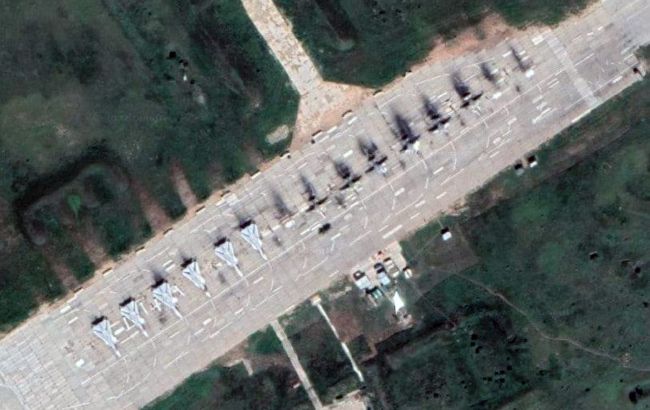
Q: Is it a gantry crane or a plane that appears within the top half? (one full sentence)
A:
You can see a plane within the top half.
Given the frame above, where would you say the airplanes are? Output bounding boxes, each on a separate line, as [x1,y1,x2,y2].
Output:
[92,319,120,357]
[153,282,183,319]
[305,197,329,223]
[180,260,211,297]
[240,222,268,261]
[119,300,149,338]
[428,117,453,142]
[398,138,421,162]
[460,95,484,120]
[364,159,388,183]
[215,239,243,277]
[340,176,364,200]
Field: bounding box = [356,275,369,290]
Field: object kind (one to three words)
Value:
vehicle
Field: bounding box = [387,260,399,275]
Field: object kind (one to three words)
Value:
vehicle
